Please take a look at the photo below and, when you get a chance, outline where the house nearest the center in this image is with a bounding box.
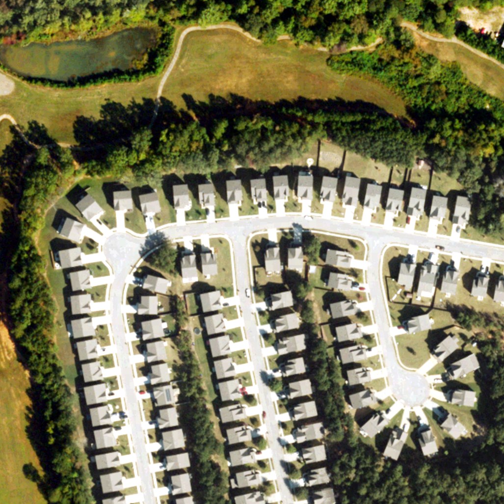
[265,248,281,272]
